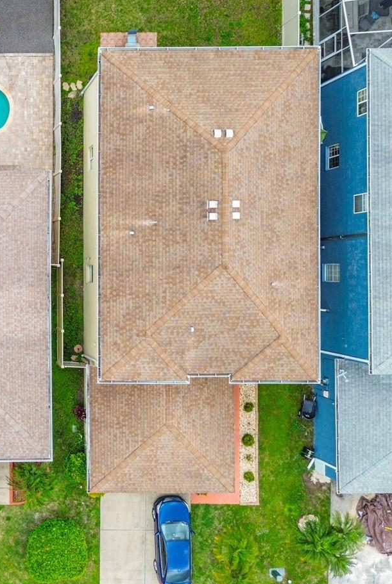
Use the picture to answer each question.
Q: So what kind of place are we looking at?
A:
residential area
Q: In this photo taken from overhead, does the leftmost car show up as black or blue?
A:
blue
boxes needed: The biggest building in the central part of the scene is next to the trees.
[73,48,319,495]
